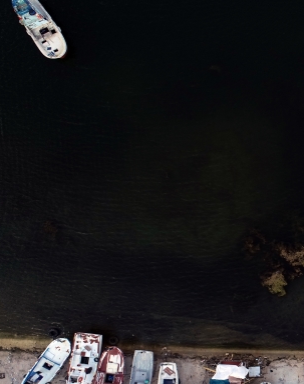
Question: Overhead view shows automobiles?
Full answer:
No, there isn't any automobile down there.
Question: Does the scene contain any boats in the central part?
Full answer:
No, I can find no boat in the central part.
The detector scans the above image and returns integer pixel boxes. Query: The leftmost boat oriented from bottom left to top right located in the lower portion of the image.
[20,337,73,384]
